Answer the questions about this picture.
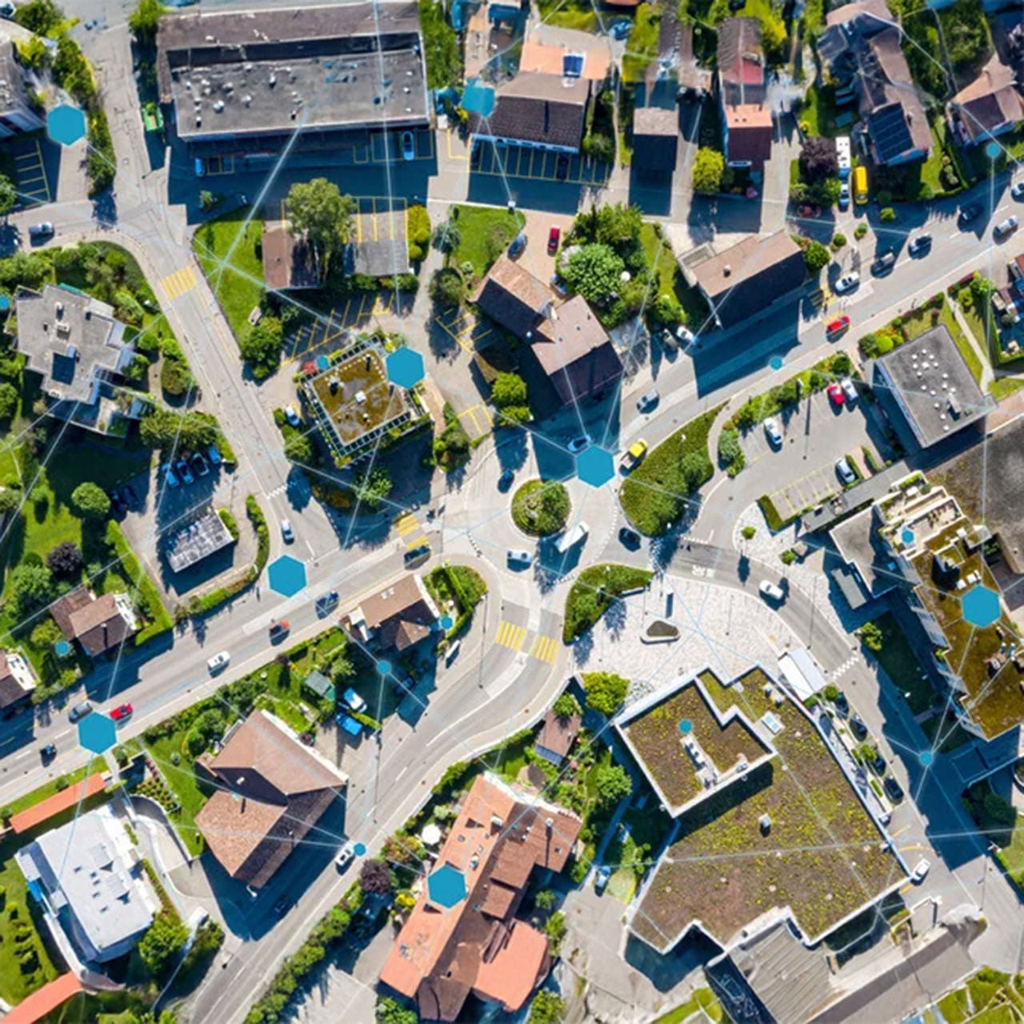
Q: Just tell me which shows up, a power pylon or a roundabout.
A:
roundabout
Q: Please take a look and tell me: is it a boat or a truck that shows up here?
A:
truck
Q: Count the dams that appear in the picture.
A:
0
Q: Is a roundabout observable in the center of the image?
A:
Yes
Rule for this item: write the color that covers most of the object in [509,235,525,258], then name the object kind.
blue car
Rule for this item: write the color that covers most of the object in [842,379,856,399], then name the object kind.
white car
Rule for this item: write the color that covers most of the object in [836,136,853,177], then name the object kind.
white vehicle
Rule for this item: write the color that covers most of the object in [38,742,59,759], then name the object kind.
blue car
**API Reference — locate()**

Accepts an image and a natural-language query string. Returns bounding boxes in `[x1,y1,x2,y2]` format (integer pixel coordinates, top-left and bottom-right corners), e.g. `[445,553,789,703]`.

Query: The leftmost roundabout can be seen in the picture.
[468,434,615,581]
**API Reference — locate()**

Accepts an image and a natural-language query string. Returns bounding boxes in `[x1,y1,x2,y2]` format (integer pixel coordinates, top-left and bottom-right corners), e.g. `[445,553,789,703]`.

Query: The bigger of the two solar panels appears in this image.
[868,104,912,163]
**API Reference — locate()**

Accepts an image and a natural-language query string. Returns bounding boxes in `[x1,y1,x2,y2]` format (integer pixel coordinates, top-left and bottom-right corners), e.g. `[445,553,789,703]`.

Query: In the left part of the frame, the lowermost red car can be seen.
[110,703,133,719]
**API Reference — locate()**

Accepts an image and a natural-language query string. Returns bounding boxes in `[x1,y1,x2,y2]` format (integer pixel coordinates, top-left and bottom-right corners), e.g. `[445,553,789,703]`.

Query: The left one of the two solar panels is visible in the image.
[536,745,562,765]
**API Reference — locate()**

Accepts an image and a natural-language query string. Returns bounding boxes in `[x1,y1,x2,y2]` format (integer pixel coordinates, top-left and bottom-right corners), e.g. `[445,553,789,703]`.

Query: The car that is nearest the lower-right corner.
[913,860,930,879]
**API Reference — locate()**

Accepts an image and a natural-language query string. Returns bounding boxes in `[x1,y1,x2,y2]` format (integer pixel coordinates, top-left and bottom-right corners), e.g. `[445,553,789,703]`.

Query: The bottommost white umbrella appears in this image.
[422,824,442,844]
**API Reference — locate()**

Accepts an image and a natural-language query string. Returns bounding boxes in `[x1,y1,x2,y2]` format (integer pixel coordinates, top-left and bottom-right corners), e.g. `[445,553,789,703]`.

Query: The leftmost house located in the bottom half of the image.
[0,650,45,705]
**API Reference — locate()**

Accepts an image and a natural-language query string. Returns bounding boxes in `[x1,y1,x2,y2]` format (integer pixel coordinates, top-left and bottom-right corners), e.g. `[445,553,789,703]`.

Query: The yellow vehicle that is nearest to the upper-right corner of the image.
[854,167,870,200]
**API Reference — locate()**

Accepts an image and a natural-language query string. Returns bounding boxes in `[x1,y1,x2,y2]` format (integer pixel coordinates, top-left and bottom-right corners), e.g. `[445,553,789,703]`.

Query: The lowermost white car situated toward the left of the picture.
[335,847,353,867]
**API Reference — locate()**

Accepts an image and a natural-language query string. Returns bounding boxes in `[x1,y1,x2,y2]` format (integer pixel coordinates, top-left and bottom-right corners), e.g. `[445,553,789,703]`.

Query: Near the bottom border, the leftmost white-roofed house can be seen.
[15,797,165,977]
